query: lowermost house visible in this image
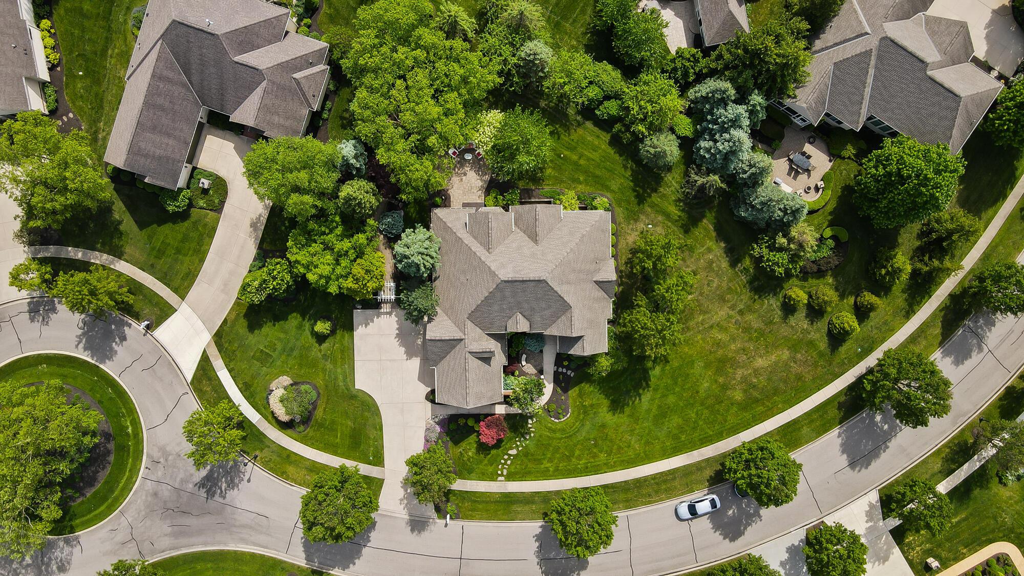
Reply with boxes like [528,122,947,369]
[426,204,616,409]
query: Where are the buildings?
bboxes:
[694,0,750,49]
[103,0,340,191]
[426,204,616,409]
[763,0,1004,158]
[0,0,53,122]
